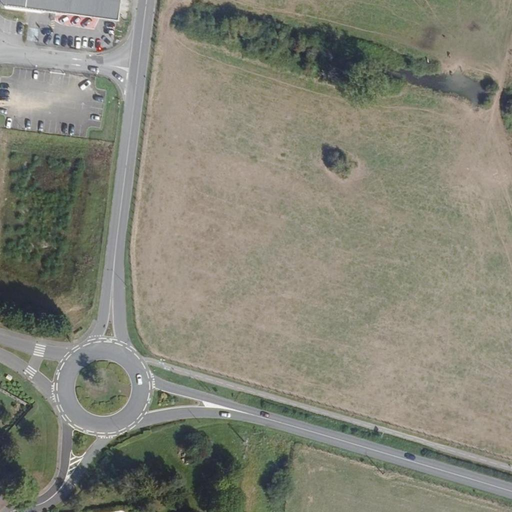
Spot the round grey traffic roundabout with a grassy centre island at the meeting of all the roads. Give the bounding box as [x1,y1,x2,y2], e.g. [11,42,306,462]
[52,336,154,438]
